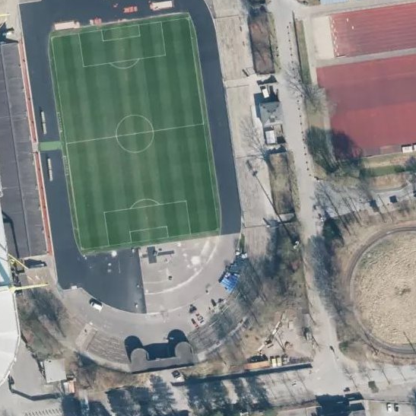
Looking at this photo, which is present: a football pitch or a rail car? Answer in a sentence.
There is a football pitch in the scene.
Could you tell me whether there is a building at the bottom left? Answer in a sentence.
Yes, looking at the bottom left, one can make out a building.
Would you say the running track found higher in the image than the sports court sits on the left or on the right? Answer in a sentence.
The running track found higher in the image than the sports court is on the right side of the image.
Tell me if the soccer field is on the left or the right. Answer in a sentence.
The soccer field is on the left side of the image.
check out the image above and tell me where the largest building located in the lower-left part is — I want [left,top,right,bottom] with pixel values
[42,358,67,383]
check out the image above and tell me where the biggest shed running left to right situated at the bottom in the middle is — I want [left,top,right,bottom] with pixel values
[184,364,313,386]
